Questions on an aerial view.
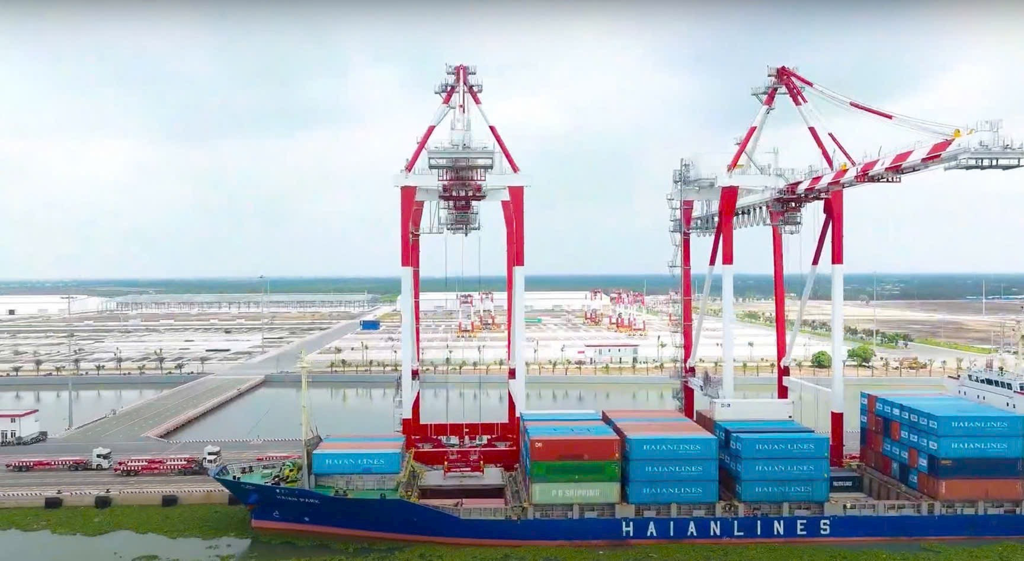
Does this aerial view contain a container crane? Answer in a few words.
Yes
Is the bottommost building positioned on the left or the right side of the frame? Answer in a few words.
left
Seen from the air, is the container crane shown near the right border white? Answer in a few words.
Yes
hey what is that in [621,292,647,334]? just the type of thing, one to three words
container crane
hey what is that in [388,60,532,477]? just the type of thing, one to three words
container crane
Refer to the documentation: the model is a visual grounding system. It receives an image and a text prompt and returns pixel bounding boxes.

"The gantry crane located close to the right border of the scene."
[659,59,1024,468]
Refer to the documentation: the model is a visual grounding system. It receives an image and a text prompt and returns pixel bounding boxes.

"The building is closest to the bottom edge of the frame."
[0,406,48,445]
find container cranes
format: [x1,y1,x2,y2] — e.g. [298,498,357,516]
[480,291,496,328]
[458,292,476,334]
[621,292,647,334]
[583,289,601,322]
[659,59,1024,468]
[388,60,532,477]
[611,291,632,331]
[663,289,682,326]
